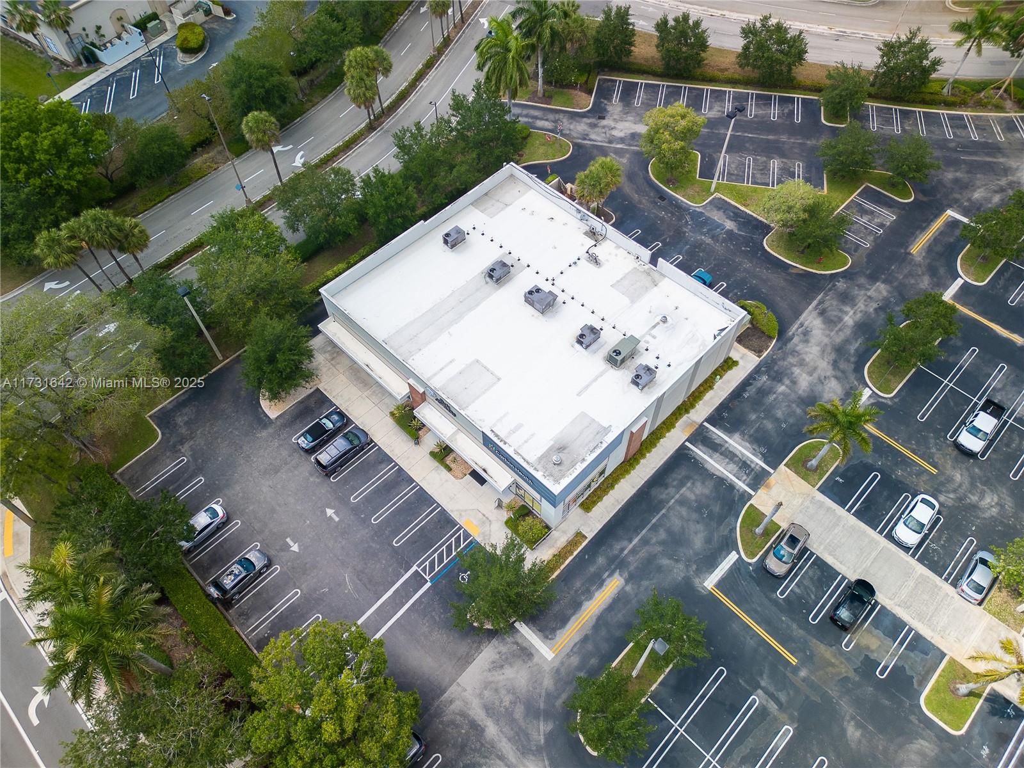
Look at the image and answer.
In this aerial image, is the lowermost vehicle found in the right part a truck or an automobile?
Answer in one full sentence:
In the photo, the lowermost vehicle found in the right part shows up as an automobile.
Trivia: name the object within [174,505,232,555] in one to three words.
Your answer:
car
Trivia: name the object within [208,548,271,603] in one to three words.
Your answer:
car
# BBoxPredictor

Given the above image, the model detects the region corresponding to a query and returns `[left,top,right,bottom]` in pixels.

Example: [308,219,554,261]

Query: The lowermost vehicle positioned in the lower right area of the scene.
[828,579,878,634]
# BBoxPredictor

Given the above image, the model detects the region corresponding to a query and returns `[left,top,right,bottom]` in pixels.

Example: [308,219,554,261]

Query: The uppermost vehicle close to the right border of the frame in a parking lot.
[952,398,1009,458]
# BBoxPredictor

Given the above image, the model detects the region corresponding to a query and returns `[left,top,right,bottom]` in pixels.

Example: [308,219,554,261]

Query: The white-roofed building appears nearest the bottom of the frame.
[315,165,745,526]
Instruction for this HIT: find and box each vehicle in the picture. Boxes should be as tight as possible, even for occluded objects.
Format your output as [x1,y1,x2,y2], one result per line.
[828,579,878,634]
[693,269,720,290]
[892,494,941,547]
[314,431,371,478]
[208,548,271,603]
[294,411,344,452]
[952,398,1009,458]
[953,547,999,601]
[760,525,812,580]
[174,505,232,555]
